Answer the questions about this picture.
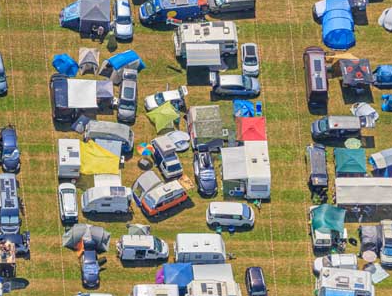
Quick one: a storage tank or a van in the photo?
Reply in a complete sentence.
There is a van in the scene.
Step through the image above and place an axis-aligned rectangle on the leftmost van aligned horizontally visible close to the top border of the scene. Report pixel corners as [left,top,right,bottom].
[138,0,201,29]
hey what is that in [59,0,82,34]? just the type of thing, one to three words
tent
